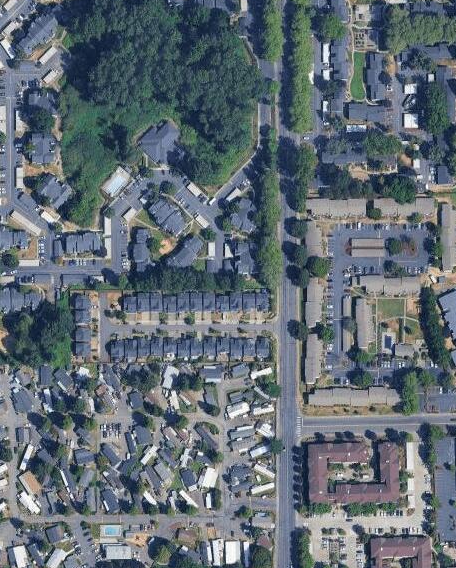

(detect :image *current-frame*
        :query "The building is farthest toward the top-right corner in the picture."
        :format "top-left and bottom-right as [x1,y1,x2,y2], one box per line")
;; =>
[410,0,444,15]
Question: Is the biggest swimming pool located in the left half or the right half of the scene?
left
